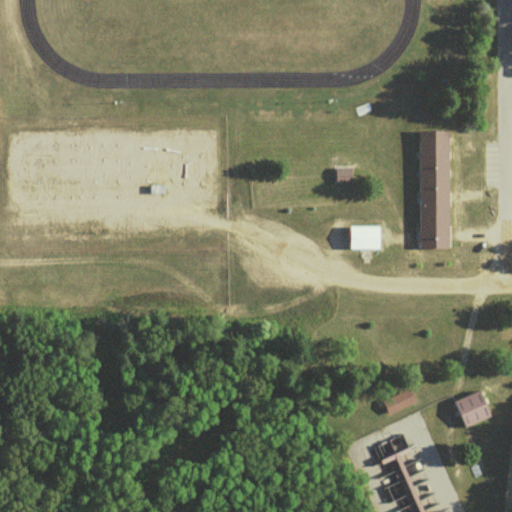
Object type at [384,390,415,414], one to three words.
shed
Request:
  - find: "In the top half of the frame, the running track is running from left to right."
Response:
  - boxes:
[20,0,421,88]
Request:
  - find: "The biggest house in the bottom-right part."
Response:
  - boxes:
[456,392,492,428]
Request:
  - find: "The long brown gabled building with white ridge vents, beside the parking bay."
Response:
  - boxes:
[420,130,451,249]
